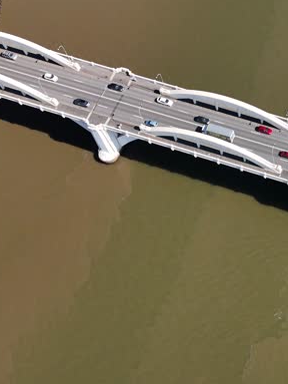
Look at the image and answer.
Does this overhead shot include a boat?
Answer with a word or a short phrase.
No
